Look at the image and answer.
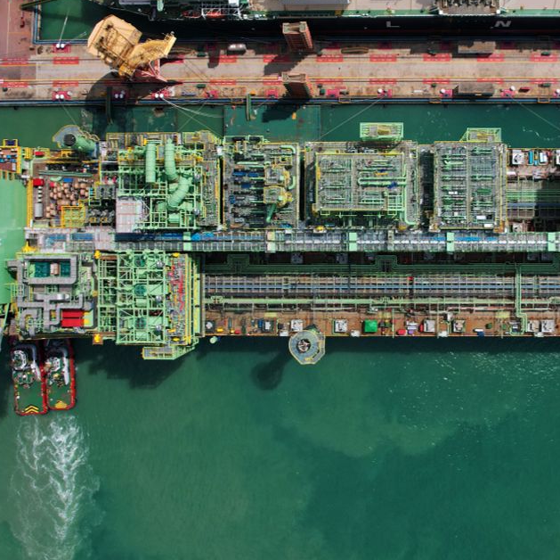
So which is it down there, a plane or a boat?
boat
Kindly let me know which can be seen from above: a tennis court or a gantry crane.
gantry crane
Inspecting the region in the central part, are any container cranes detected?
No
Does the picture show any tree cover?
No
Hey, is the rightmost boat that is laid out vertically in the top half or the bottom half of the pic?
bottom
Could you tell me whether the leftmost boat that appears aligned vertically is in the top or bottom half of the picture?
bottom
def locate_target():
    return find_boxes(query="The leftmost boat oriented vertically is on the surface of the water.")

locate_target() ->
[12,338,49,416]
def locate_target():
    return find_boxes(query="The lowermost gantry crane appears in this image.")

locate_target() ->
[88,14,177,85]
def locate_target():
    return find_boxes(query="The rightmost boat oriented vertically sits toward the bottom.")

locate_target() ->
[43,338,79,411]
